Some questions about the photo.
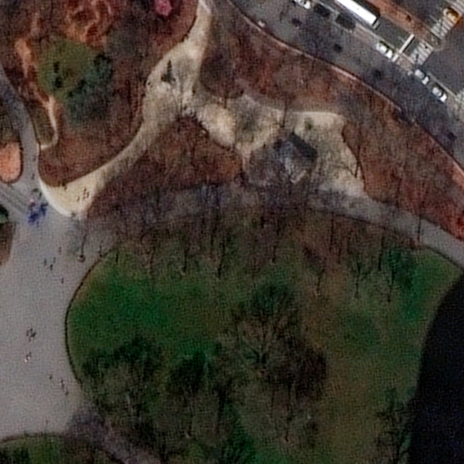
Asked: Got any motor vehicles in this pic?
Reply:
Yes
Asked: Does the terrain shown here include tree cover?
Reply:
Yes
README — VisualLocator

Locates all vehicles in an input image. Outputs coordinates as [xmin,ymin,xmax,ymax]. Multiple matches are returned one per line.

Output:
[413,68,431,86]
[375,41,395,60]
[429,85,449,103]
[338,0,384,25]
[441,9,460,26]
